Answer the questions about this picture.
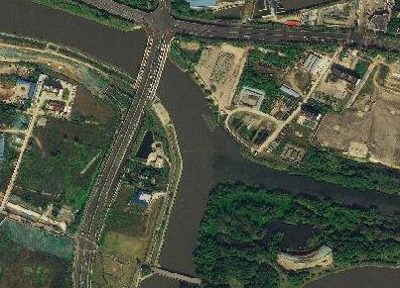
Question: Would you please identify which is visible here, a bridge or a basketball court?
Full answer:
Of the two, only a bridge appears.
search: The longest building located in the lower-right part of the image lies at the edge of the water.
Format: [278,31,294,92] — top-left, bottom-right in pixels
[273,241,331,265]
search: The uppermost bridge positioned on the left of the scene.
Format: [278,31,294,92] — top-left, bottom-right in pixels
[125,29,168,104]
